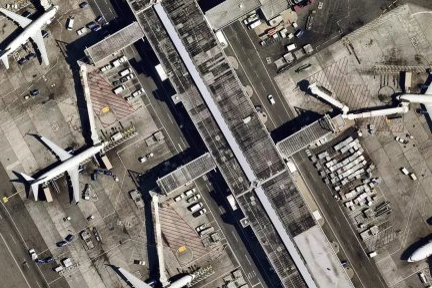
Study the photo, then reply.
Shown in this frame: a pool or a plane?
plane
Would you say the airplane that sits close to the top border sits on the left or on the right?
left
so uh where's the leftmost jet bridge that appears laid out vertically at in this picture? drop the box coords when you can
[78,63,100,146]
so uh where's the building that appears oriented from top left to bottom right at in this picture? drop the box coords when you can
[126,0,356,288]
